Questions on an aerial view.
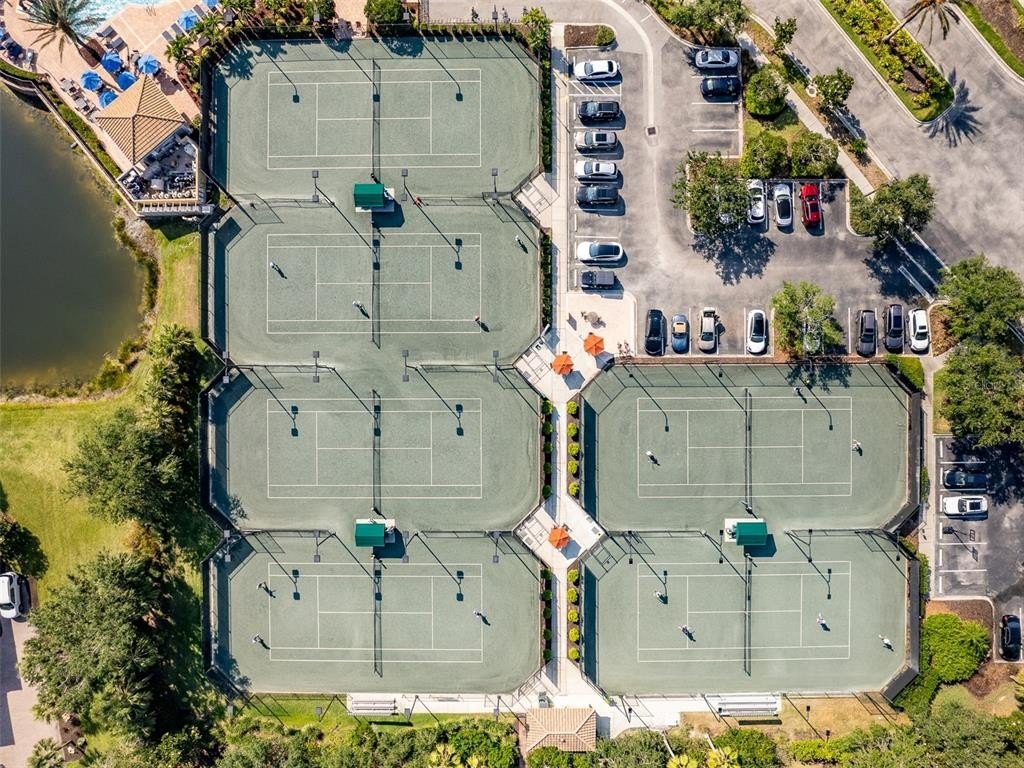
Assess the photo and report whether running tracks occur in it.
No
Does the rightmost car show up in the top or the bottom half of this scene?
bottom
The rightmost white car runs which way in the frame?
from left to right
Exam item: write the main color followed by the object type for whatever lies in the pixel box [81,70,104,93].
blue umbrella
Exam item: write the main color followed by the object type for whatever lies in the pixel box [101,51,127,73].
blue umbrella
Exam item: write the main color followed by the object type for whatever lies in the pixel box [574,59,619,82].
white car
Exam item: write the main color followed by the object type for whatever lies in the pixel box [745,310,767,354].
white car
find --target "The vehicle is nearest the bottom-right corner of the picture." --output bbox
[996,613,1021,658]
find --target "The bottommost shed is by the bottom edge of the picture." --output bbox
[526,700,597,753]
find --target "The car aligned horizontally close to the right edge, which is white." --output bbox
[940,496,988,517]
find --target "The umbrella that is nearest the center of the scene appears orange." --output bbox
[551,352,574,376]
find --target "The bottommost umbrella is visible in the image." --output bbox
[547,525,569,549]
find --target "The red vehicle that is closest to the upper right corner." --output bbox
[797,184,821,228]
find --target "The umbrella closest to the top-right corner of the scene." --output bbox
[583,333,605,356]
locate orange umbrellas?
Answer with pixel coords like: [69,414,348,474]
[547,525,569,549]
[551,352,574,376]
[583,333,605,356]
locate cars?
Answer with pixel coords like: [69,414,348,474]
[575,185,619,206]
[905,310,930,352]
[697,77,740,99]
[694,49,738,72]
[940,496,988,517]
[670,314,690,353]
[577,100,620,122]
[854,311,876,354]
[745,310,767,354]
[577,242,623,262]
[745,181,767,225]
[0,574,25,618]
[574,129,617,152]
[996,613,1021,658]
[697,304,718,353]
[644,310,664,355]
[880,306,904,350]
[574,59,619,82]
[770,185,792,227]
[574,159,617,181]
[797,184,821,228]
[939,470,986,490]
[578,269,618,289]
